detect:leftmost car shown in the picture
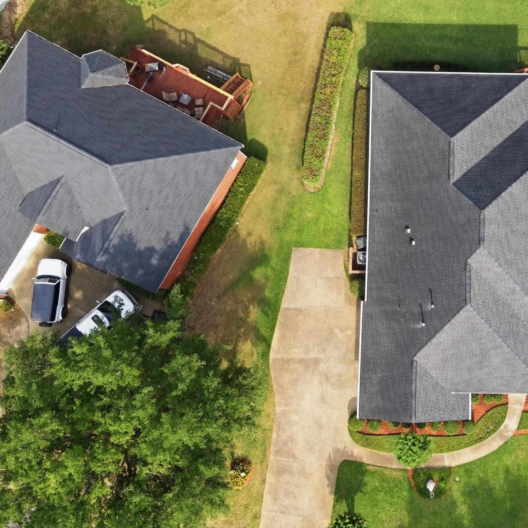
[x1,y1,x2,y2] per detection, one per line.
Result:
[32,254,73,324]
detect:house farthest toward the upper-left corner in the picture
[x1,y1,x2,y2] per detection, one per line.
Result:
[0,30,252,297]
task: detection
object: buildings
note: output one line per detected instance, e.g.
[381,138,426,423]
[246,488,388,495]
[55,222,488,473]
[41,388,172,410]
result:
[0,30,252,297]
[356,70,528,423]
